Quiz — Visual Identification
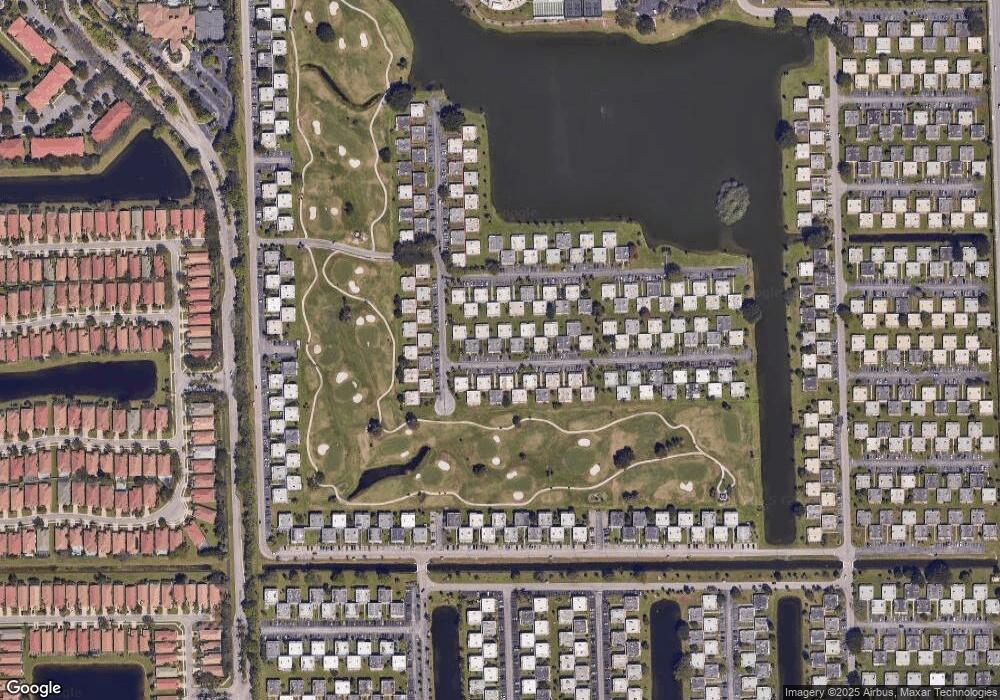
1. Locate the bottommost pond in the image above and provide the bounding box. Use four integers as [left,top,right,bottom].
[31,664,146,700]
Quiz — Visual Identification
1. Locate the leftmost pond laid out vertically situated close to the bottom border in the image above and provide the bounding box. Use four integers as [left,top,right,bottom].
[433,606,461,700]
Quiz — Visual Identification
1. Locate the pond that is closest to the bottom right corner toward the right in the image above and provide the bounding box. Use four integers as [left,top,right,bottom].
[777,597,806,700]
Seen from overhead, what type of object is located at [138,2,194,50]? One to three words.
building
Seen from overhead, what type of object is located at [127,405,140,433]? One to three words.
house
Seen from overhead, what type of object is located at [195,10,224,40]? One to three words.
tennis court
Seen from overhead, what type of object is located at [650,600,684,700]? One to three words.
pond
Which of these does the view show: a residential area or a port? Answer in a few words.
residential area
